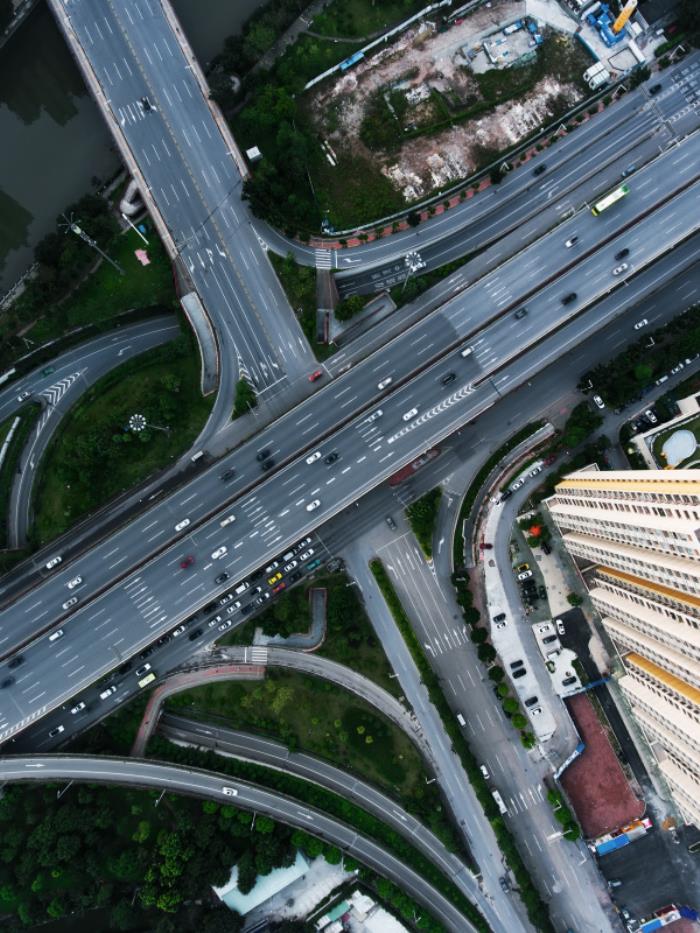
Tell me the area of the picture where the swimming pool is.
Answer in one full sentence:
You can find the swimming pool in the right area of the picture.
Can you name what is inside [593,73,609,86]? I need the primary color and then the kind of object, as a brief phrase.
white vehicle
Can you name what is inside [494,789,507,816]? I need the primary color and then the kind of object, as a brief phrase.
white vehicle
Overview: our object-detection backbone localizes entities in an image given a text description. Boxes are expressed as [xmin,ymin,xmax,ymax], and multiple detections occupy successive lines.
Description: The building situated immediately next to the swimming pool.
[541,472,700,853]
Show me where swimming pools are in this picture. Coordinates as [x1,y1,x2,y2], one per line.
[664,427,700,472]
